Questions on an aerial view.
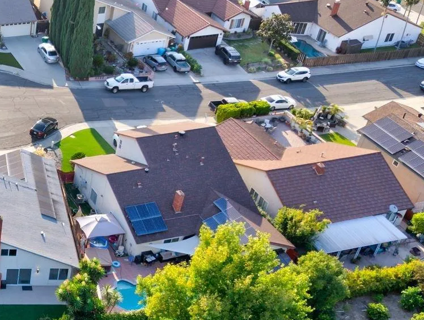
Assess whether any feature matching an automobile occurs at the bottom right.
No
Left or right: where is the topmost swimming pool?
right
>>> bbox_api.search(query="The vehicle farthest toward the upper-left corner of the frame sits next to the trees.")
[40,47,59,61]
